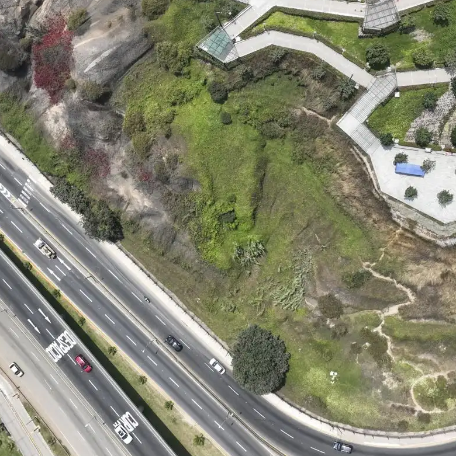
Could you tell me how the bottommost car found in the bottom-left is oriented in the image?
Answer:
at an angle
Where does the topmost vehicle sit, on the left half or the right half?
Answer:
left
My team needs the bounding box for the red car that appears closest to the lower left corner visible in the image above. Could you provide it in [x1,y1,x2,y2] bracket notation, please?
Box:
[74,353,92,372]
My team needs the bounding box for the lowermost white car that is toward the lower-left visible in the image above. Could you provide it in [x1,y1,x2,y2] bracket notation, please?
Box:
[114,421,135,443]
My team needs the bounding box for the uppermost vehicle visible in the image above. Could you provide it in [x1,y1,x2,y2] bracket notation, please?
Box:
[34,238,56,259]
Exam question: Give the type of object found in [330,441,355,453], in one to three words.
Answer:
vehicle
